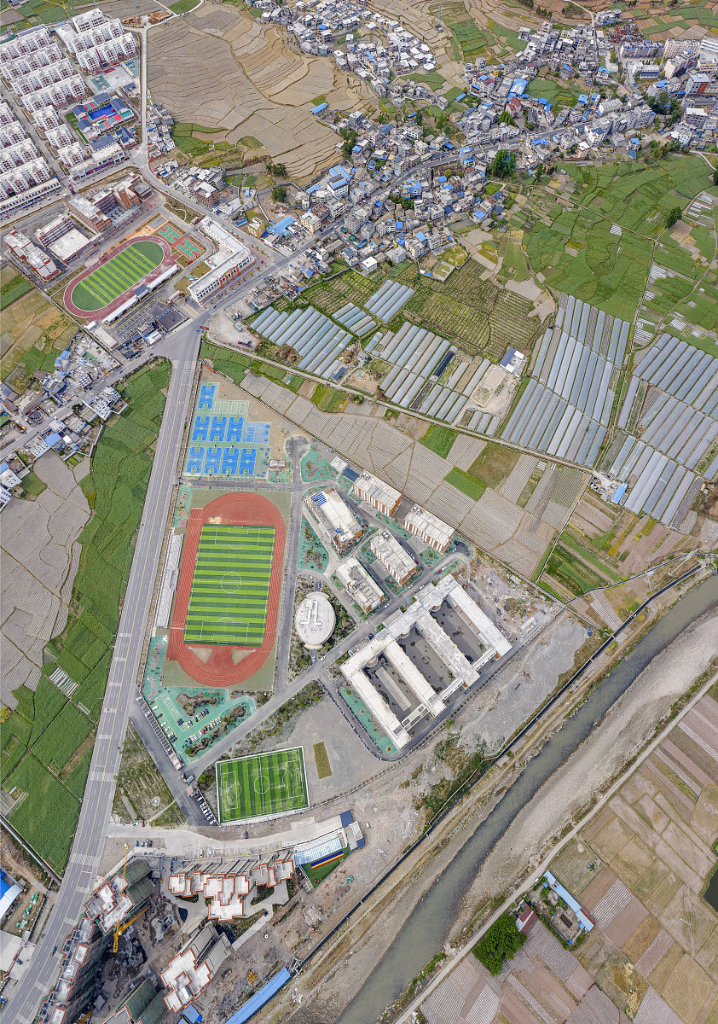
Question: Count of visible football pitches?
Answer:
3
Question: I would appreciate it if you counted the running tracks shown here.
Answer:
2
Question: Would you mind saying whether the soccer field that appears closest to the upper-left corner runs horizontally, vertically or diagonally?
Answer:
diagonally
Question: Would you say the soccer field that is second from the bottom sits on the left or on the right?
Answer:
left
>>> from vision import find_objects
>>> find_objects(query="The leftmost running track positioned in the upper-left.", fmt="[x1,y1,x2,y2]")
[63,234,178,319]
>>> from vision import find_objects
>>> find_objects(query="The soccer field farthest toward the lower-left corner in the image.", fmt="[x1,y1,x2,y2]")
[213,744,312,827]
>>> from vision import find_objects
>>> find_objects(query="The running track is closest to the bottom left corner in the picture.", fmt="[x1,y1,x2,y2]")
[159,489,292,689]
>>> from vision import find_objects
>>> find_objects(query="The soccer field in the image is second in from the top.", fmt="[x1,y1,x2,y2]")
[182,523,276,647]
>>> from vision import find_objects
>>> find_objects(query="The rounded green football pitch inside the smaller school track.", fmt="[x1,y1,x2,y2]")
[72,240,163,310]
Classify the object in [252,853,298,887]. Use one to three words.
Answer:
building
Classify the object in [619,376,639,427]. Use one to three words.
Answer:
greenhouse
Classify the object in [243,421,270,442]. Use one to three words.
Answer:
sports court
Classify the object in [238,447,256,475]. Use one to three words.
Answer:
basketball court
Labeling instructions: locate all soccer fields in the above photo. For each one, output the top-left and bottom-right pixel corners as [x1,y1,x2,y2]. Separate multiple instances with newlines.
[213,744,312,827]
[182,523,276,647]
[72,240,163,310]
